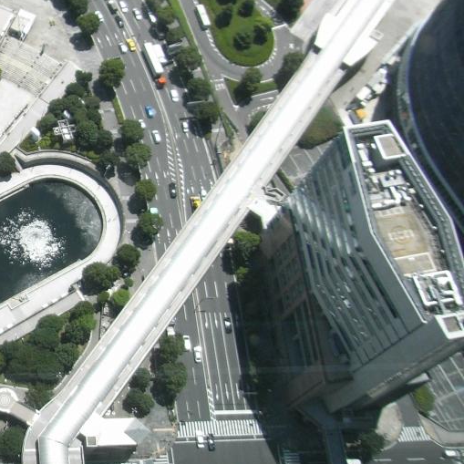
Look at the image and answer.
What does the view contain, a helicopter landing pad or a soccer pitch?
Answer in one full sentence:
There is a helicopter landing pad in the scene.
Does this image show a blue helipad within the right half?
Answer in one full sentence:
No, no blue helipad can be made out within the right half.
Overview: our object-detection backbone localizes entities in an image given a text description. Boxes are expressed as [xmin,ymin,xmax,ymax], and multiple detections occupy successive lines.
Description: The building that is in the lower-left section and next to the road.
[79,414,146,450]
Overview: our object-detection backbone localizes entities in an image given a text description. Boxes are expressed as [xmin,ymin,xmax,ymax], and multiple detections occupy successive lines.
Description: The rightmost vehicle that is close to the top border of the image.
[194,1,213,33]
